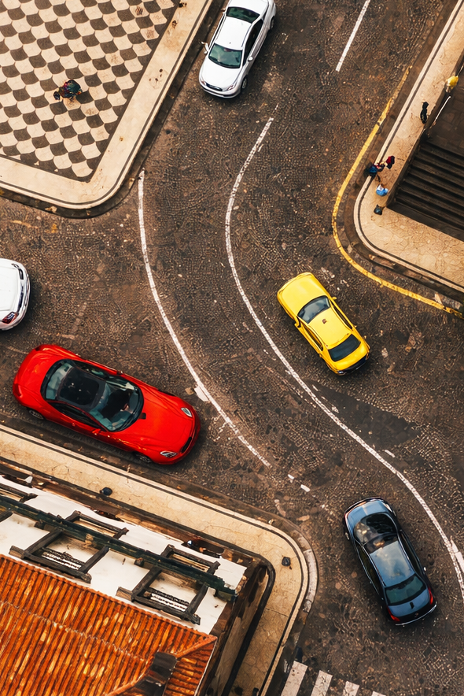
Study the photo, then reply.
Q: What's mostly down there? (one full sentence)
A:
The bulk of the photo consists of paved ground.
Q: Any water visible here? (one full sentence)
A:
No, there is no water in the image.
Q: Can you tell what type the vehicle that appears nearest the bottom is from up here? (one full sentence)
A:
The vehicle that appears nearest the bottom is a car.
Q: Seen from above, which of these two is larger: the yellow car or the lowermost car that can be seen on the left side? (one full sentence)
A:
Of the two, the lowermost car that can be seen on the left side is bigger, while the yellow car is smaller.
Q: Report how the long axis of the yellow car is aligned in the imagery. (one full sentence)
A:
The yellow car is oriented on a diagonal.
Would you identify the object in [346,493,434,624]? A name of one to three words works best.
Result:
car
